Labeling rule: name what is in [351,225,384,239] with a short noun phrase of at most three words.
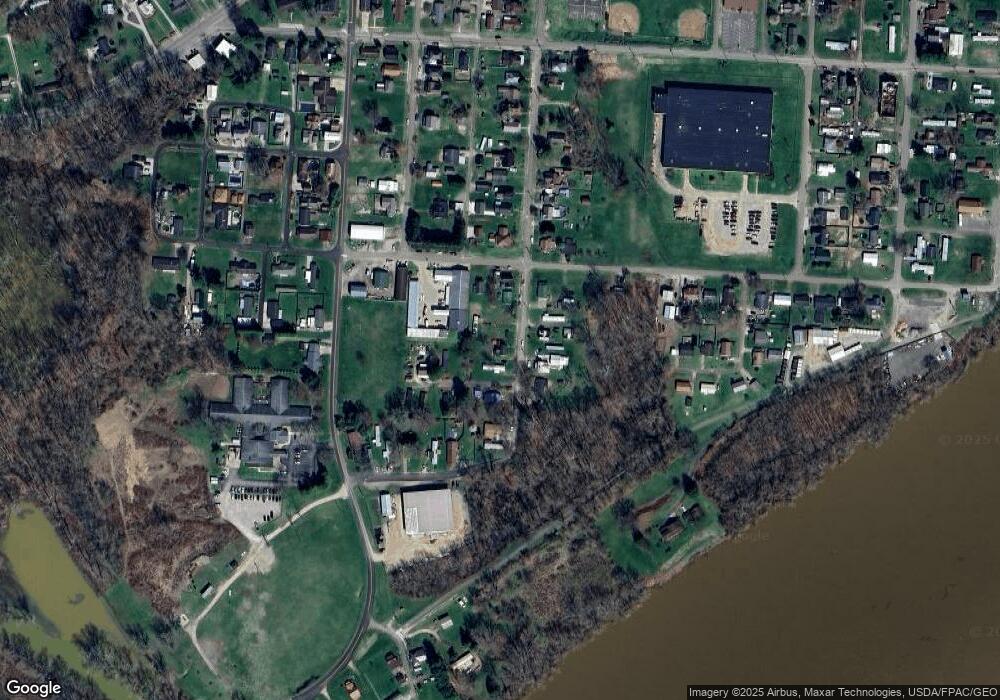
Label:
building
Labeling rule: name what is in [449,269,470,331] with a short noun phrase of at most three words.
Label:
building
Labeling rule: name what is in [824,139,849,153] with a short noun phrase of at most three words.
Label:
house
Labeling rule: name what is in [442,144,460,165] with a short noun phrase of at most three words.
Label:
house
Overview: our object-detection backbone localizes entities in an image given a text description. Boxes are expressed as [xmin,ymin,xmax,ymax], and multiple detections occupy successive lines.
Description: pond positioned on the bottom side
[0,501,134,700]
